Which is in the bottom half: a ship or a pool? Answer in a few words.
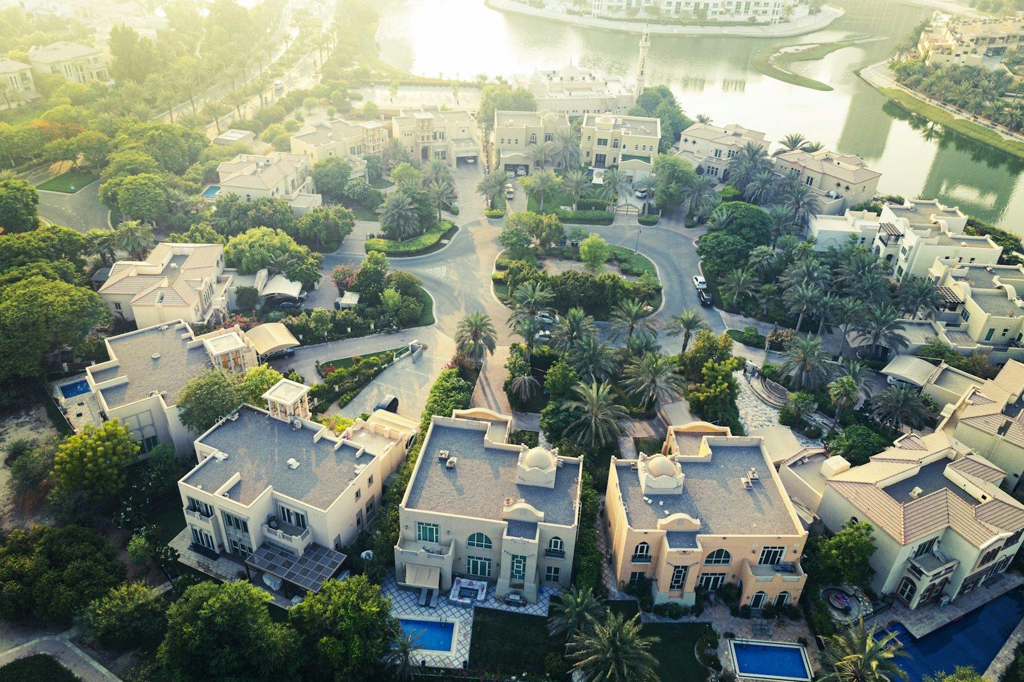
pool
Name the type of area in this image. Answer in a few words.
residential area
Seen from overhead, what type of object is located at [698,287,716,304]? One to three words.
car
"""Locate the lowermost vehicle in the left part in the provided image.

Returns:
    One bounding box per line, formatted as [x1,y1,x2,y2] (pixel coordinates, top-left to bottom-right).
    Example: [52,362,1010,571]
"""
[371,393,401,414]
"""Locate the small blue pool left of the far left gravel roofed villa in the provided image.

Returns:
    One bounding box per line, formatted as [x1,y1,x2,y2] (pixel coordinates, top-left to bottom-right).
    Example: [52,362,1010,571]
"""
[53,378,94,400]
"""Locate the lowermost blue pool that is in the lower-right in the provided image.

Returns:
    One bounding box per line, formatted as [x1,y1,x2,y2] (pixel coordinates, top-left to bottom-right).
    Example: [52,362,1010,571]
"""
[728,633,815,682]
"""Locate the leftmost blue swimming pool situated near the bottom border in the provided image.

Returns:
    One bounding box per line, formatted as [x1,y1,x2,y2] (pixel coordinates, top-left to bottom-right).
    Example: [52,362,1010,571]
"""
[380,612,460,658]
